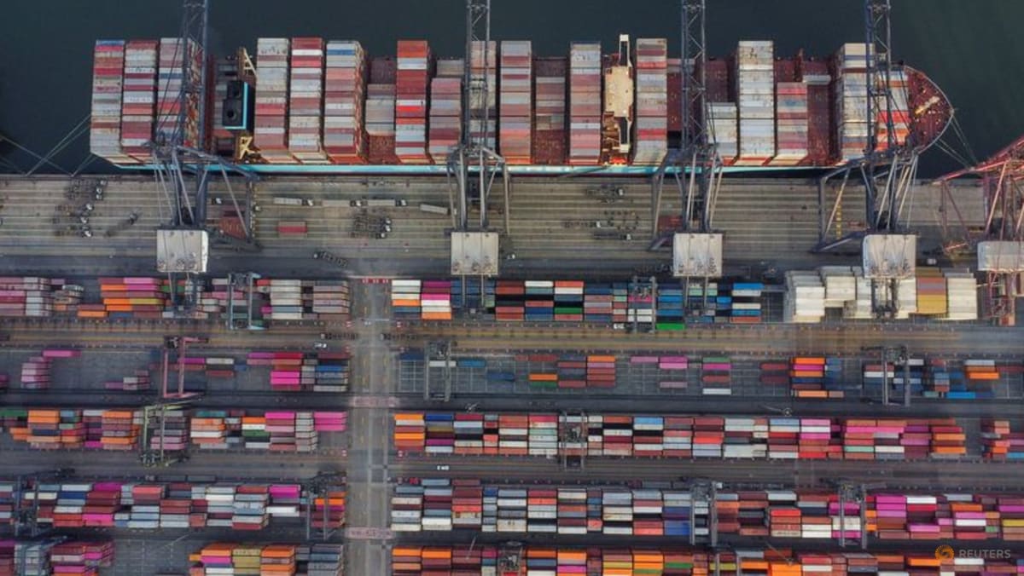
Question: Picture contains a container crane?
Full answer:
Yes, there's a container crane here.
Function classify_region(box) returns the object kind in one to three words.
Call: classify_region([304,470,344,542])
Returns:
container crane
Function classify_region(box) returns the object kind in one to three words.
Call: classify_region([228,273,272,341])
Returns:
container crane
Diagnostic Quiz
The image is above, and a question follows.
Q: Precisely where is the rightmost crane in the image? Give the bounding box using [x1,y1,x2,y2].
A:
[922,137,1024,318]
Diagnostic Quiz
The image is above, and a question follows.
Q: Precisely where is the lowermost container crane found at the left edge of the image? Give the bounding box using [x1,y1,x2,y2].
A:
[19,532,74,576]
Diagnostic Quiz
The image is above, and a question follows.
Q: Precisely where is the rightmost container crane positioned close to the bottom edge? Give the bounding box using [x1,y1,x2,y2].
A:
[819,476,866,549]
